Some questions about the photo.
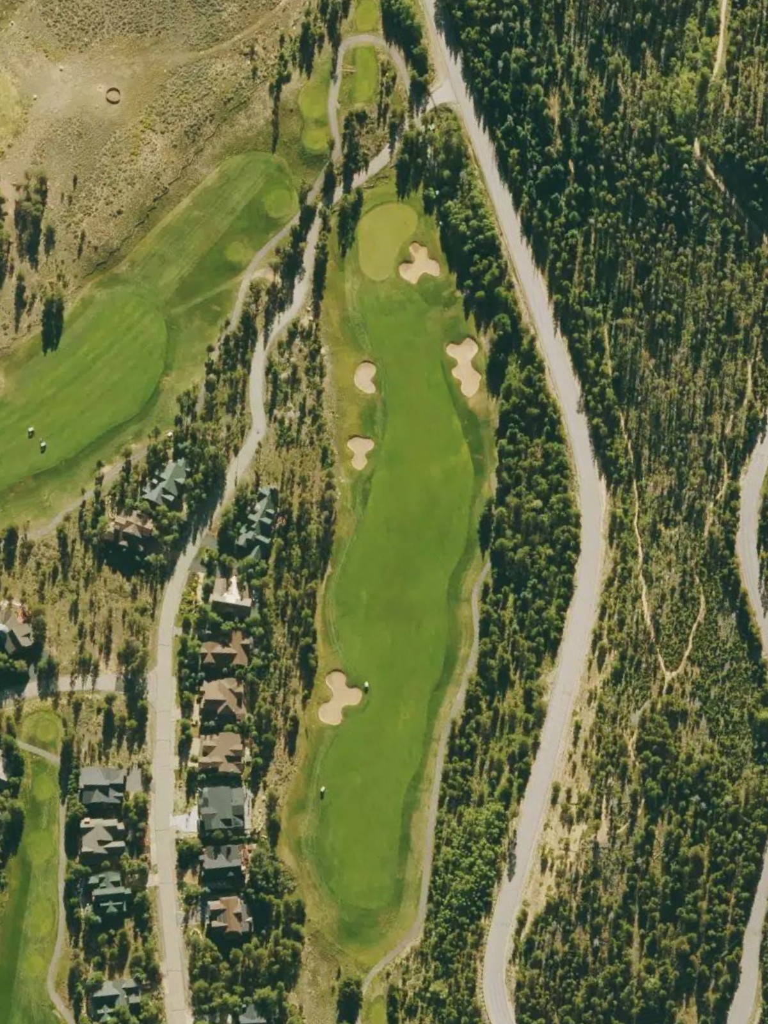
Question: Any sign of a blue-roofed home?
No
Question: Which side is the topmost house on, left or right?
left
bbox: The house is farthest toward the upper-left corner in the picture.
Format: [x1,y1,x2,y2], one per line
[141,455,189,507]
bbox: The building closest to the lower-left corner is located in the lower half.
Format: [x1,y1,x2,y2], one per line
[92,976,151,1023]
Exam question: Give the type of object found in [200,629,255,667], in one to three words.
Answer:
house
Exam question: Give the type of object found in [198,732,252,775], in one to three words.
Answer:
house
